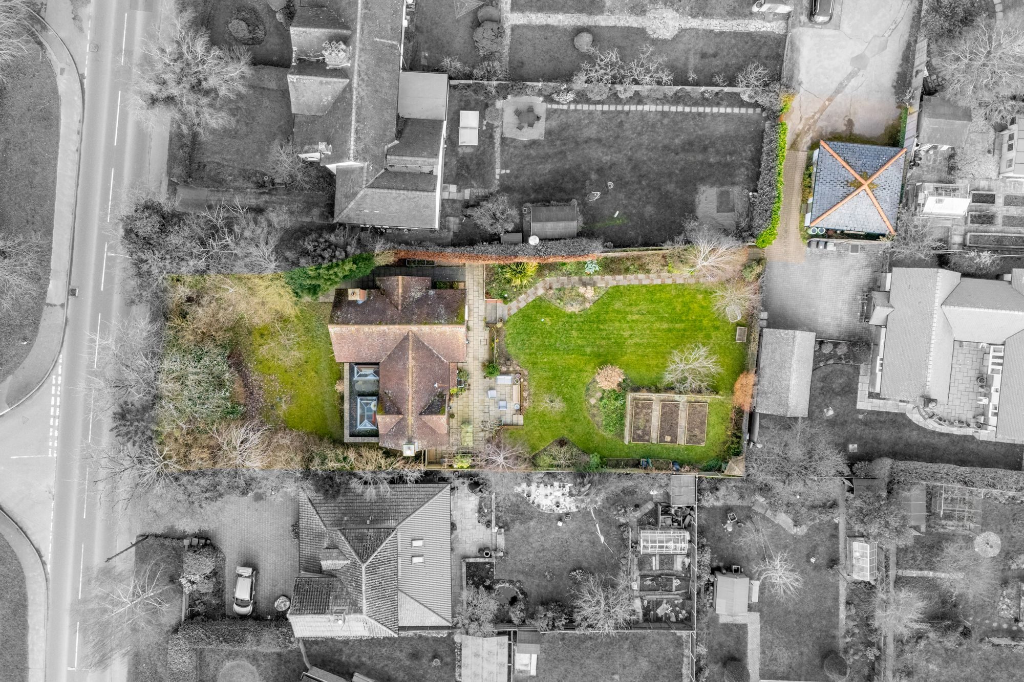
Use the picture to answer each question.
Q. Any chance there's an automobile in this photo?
Yes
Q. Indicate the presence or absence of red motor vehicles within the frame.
No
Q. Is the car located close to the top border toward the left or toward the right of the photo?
right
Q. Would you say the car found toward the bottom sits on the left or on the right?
left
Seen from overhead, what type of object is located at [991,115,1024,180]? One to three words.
house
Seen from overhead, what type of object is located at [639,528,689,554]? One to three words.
greenhouse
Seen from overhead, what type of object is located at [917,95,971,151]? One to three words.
shed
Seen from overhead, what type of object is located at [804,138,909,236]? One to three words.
building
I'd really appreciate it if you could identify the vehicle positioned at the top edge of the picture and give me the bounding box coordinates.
[807,0,838,26]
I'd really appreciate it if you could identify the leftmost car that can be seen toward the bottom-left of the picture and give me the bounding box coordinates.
[229,566,259,617]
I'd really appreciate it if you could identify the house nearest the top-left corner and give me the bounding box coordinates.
[287,0,450,233]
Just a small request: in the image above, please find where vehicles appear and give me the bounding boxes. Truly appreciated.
[807,0,838,26]
[229,566,259,617]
